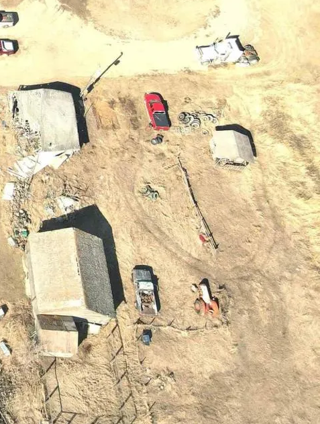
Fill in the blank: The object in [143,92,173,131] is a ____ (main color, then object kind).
red truck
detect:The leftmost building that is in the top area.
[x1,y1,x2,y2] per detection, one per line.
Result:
[3,88,80,193]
